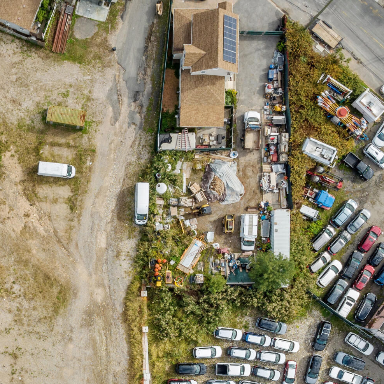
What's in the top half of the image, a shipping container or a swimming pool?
shipping container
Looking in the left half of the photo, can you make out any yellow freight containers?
Yes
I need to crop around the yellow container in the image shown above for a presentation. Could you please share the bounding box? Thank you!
[46,105,87,131]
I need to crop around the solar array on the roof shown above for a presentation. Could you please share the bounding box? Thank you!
[224,8,238,62]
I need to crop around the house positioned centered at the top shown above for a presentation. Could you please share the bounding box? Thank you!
[170,0,239,131]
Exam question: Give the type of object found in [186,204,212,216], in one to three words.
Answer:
vehicle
